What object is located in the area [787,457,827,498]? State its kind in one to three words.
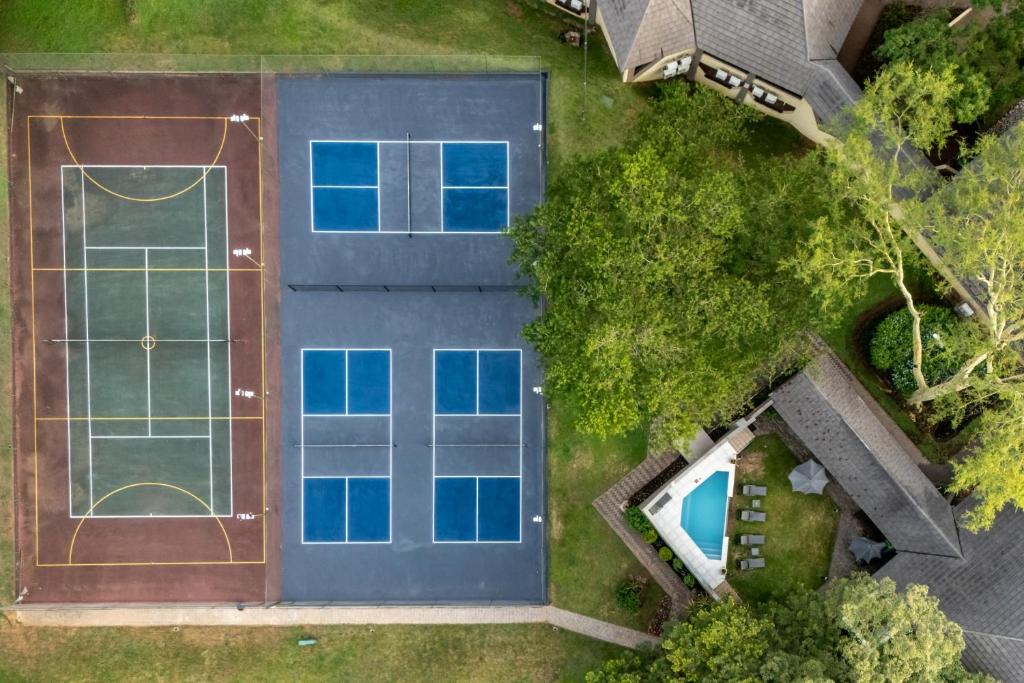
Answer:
umbrella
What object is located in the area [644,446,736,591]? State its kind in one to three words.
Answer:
swimming pool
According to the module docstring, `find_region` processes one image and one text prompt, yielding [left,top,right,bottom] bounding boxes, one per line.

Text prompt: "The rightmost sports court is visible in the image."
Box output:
[433,349,522,543]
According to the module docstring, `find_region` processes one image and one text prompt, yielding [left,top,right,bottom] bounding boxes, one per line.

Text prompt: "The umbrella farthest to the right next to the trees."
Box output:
[844,532,885,567]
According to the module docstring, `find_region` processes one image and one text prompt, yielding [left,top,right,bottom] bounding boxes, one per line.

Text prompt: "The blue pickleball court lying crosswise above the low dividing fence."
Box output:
[310,140,509,233]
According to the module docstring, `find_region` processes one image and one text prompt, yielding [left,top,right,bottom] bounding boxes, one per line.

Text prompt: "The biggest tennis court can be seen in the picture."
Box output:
[10,73,281,605]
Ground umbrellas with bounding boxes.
[787,457,827,498]
[844,532,885,567]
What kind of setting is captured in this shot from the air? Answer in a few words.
sports ground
